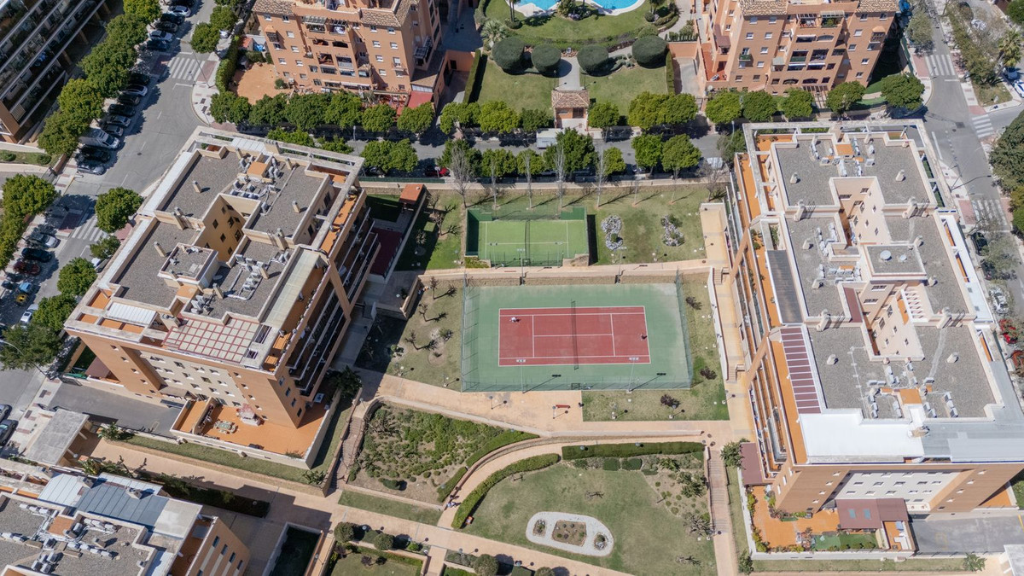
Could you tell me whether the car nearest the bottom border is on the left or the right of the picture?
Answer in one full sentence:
You can find the car nearest the bottom border on the left side of the picture.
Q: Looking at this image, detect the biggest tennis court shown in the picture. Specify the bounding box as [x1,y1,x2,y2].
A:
[462,282,692,393]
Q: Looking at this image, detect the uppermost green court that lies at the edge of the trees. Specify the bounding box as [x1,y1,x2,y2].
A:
[473,201,594,268]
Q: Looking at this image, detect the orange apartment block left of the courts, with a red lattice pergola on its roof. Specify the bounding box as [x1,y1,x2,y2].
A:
[59,130,383,430]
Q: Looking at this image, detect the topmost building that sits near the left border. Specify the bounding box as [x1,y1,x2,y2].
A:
[0,0,120,142]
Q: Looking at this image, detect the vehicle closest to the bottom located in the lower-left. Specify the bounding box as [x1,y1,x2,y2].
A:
[0,415,20,444]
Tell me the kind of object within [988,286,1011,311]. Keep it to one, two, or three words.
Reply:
car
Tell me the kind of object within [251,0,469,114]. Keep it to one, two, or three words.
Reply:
building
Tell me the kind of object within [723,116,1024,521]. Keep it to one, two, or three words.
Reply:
building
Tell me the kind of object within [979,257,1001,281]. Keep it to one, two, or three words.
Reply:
car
